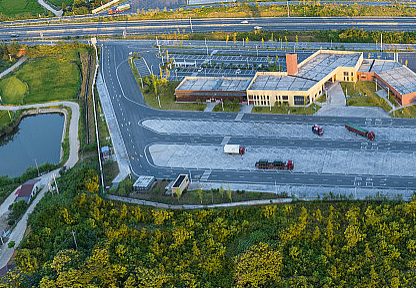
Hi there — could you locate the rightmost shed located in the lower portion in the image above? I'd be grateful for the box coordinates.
[159,174,191,193]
